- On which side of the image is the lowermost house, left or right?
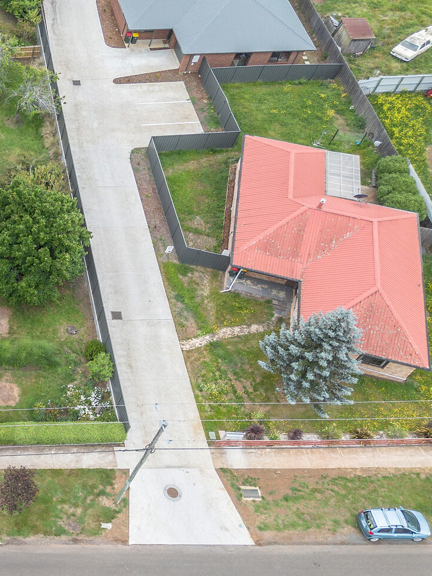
right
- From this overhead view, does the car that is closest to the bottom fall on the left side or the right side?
right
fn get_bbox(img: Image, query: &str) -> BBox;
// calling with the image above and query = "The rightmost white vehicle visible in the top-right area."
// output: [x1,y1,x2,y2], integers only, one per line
[387,30,432,62]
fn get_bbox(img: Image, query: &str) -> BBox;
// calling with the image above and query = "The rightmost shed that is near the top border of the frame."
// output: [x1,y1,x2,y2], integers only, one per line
[336,17,375,58]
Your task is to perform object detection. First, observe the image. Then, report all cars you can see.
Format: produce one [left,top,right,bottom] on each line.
[387,30,432,62]
[352,502,432,543]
